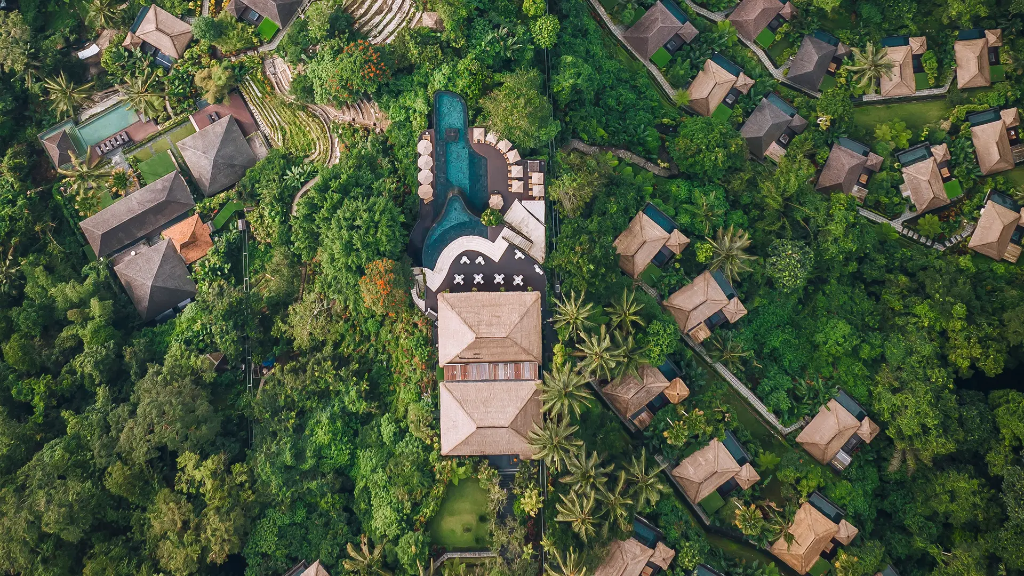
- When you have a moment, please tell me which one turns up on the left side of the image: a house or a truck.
house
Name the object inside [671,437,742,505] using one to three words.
house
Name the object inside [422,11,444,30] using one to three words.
shed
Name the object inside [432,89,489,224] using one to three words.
swimming pool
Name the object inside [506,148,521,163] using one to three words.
umbrella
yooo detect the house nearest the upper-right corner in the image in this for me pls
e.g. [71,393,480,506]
[952,37,992,90]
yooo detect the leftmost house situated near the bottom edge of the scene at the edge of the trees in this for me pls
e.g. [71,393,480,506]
[593,536,655,576]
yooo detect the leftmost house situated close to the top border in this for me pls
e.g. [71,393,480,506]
[135,3,194,60]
